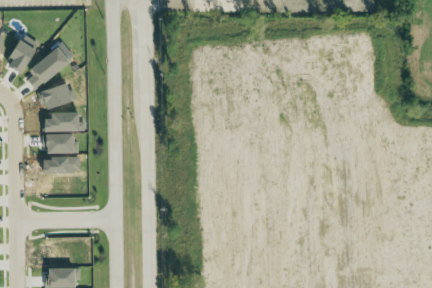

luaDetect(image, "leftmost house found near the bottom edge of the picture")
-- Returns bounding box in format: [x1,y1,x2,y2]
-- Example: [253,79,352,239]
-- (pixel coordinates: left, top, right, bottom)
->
[46,268,82,288]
